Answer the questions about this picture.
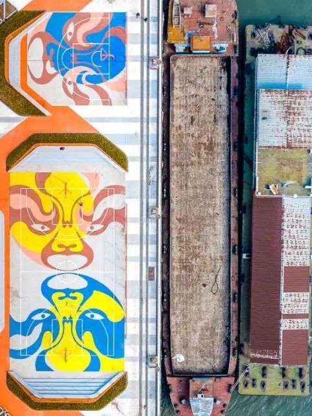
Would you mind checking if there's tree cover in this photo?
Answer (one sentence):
No, tree cover can't be seen anywhere here.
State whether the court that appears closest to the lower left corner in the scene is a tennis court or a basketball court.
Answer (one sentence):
Specifically, the court that appears closest to the lower left corner is a basketball court.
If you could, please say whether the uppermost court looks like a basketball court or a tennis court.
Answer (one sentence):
I'd say the uppermost court is a basketball court.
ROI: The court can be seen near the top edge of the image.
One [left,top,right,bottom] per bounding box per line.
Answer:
[28,11,126,106]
